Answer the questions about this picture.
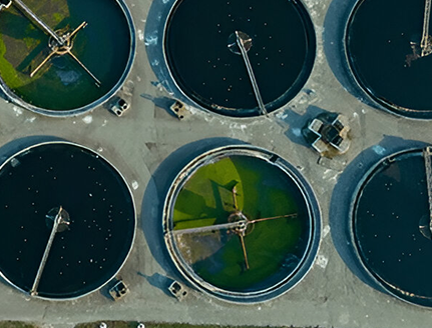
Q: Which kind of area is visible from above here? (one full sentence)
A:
The picture captures an industrial area.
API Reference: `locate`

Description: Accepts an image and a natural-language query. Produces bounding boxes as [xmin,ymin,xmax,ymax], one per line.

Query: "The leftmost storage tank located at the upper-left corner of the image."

[0,0,136,117]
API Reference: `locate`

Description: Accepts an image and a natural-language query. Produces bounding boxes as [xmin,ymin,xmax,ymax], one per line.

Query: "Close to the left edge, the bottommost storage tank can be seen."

[0,141,137,299]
